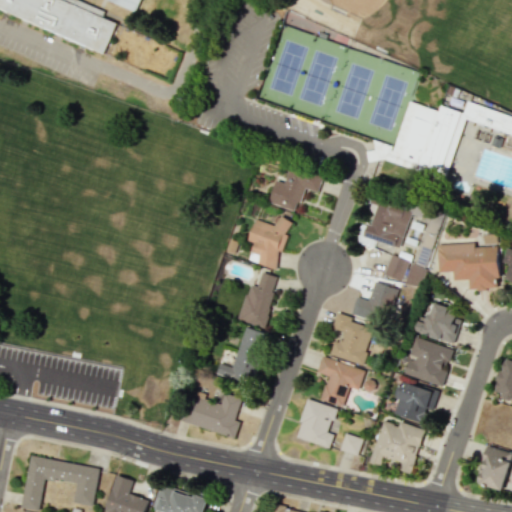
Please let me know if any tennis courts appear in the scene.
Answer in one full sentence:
Yes, I can see a tennis court in this picture.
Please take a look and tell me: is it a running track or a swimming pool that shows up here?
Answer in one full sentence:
There is a swimming pool in the scene.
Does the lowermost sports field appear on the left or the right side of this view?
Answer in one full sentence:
It is on the left.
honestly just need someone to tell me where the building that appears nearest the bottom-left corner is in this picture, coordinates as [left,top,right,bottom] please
[20,455,98,512]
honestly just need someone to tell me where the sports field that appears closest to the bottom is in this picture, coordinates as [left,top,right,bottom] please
[0,67,262,432]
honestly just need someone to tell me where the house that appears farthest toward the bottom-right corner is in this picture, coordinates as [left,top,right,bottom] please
[478,447,511,491]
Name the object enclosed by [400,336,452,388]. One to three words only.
house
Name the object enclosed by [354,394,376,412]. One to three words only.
swimming pool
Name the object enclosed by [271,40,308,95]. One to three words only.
tennis court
